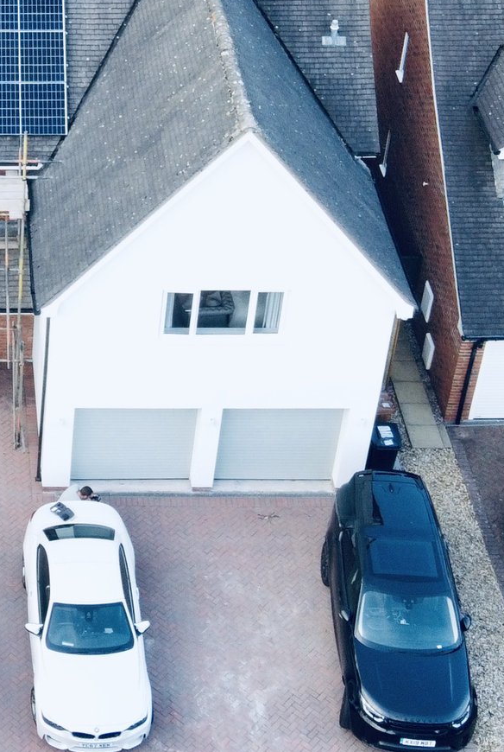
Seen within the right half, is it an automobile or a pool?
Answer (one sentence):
Looking within the right half, you will find an automobile.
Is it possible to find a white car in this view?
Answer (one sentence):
Yes, I can see a white car in this picture.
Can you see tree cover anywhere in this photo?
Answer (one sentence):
No, the scene doesn't show any tree cover.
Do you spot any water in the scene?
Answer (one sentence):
No, there is no water in the image.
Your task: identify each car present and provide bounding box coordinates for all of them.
[316,469,484,749]
[20,498,155,752]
